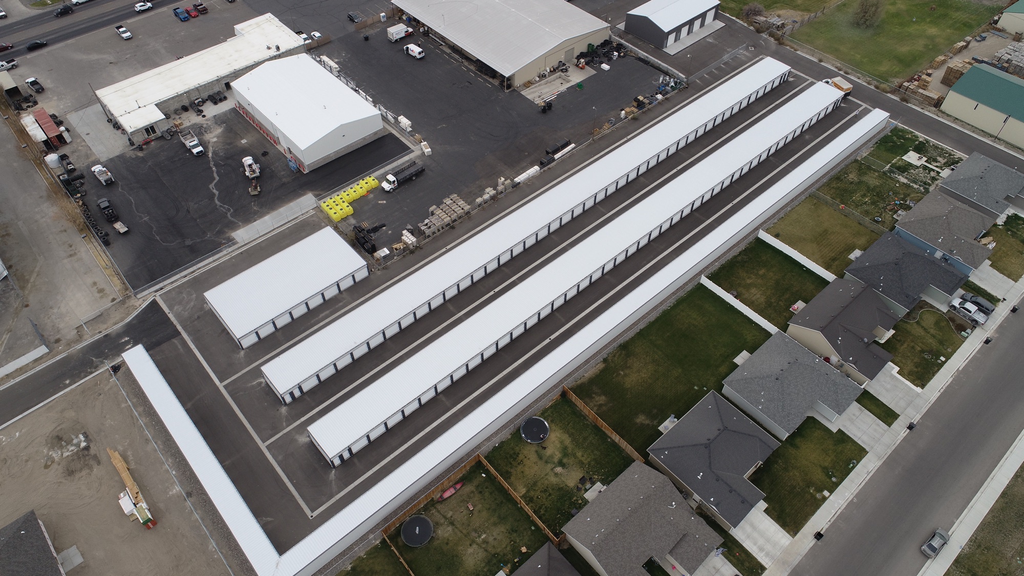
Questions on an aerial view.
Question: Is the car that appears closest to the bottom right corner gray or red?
gray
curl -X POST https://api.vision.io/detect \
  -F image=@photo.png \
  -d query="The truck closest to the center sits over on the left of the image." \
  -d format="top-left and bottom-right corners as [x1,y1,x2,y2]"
[381,162,430,194]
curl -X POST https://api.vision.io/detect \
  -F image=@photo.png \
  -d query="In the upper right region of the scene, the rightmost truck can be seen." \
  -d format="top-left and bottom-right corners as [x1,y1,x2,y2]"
[819,73,855,98]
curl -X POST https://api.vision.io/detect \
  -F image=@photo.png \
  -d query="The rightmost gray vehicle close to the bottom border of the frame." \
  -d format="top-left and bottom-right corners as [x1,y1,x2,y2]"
[918,526,950,561]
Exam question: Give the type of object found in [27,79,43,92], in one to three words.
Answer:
vehicle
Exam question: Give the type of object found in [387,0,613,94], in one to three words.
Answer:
building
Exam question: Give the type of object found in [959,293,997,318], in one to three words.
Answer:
car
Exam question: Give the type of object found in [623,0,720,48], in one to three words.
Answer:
shed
